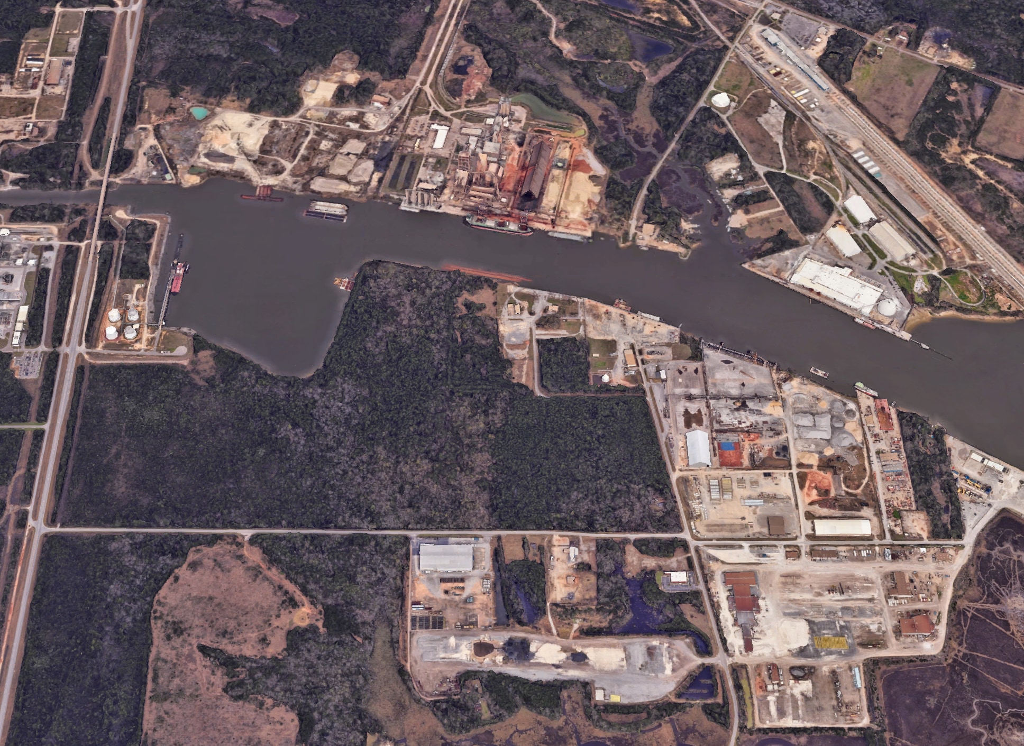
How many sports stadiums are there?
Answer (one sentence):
There are no sports stadiums in the image.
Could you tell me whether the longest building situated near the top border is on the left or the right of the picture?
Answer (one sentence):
The longest building situated near the top border is on the right side of the image.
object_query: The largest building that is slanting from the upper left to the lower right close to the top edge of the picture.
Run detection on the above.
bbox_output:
[760,28,829,92]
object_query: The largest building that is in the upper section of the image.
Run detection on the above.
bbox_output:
[789,259,883,314]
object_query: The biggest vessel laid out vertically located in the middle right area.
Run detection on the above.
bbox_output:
[874,399,893,430]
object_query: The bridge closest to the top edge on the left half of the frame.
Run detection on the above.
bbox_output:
[88,131,113,260]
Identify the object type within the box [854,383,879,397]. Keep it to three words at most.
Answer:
ship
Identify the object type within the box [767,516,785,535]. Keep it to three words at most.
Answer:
building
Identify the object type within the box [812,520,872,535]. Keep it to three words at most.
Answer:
building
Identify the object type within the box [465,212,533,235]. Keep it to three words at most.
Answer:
ship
